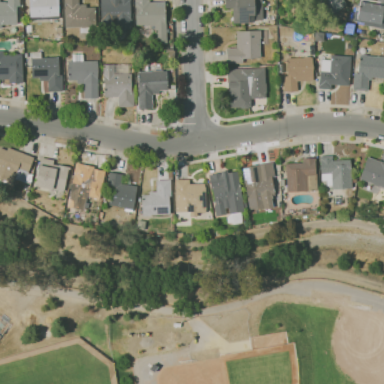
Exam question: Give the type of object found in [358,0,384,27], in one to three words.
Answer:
house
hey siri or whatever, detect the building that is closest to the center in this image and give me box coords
[175,179,206,214]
